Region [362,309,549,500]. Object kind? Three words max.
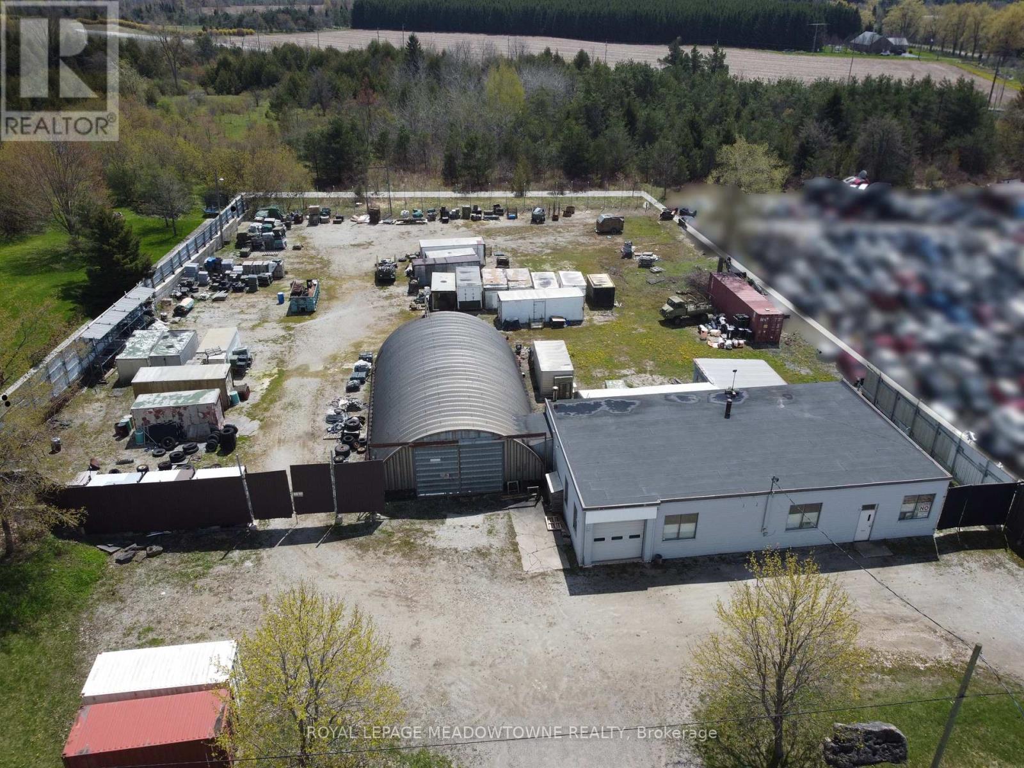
shed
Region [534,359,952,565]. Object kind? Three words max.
building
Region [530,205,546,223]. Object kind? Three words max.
vehicle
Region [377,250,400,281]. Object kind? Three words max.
truck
